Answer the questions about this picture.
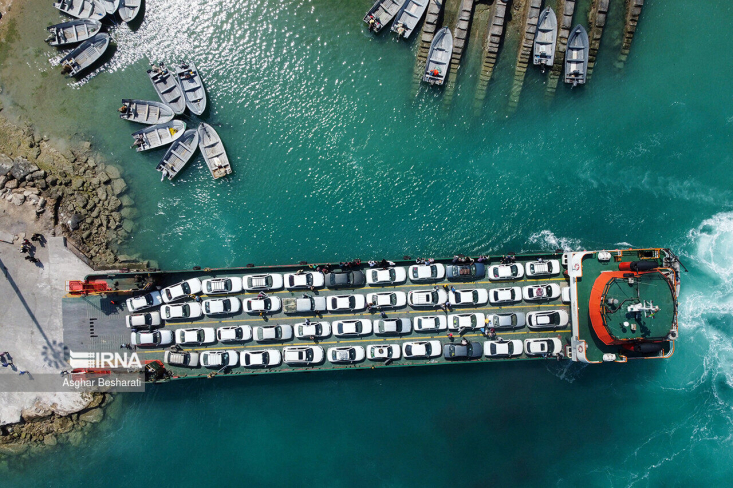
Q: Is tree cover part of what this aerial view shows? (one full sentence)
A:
No, tree cover can't be seen anywhere here.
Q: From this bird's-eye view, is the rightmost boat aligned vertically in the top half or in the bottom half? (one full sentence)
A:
The rightmost boat aligned vertically sits in the top half of the picture.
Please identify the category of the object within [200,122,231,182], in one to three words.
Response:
boat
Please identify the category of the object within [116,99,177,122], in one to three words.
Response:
boat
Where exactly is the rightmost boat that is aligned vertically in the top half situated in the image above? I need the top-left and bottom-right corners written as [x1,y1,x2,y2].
[564,25,587,87]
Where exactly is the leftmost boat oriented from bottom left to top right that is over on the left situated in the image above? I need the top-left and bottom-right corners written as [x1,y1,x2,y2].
[58,34,112,77]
